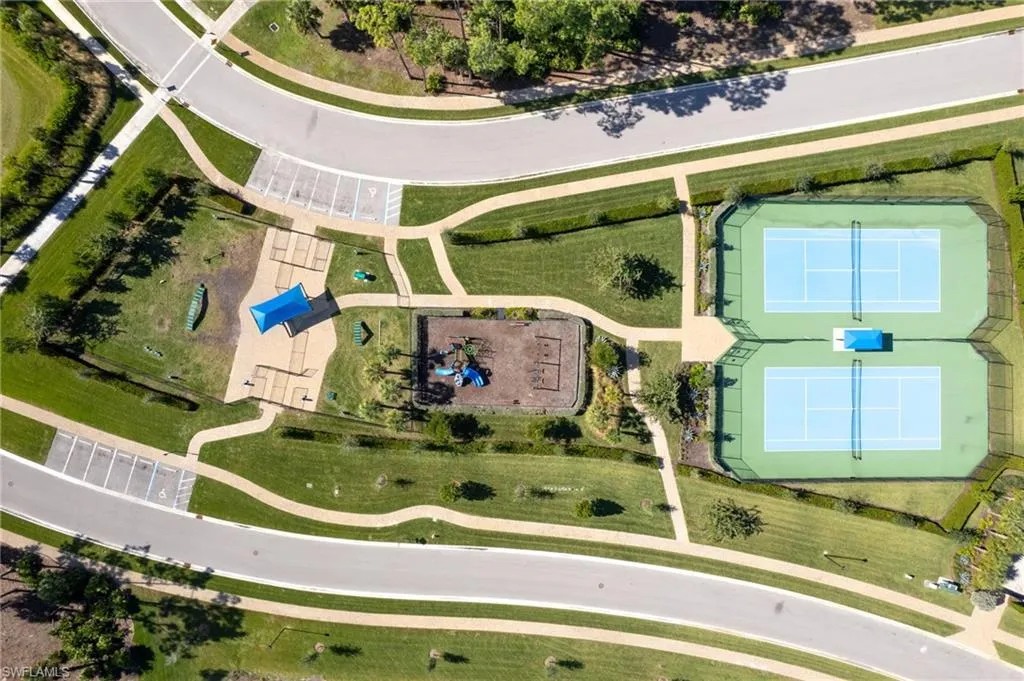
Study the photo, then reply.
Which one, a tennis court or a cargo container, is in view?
tennis court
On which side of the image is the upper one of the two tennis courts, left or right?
right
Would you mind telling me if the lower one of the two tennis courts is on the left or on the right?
right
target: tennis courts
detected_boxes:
[718,203,988,340]
[718,340,989,479]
